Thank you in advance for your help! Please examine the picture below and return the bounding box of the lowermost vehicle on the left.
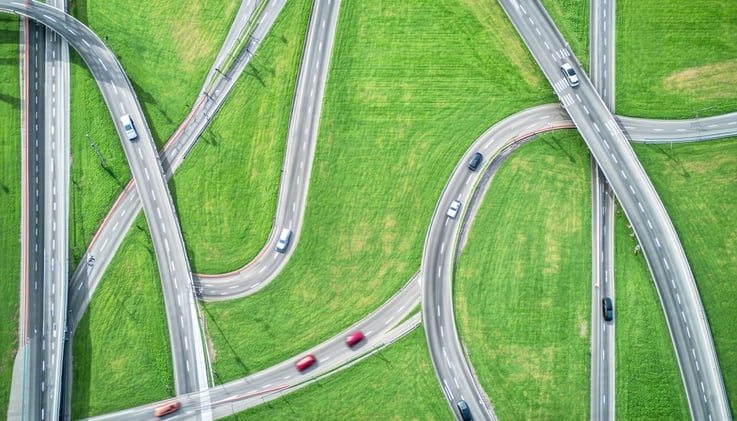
[154,400,181,416]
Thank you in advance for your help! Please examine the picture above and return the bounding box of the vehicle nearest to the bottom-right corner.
[602,296,614,322]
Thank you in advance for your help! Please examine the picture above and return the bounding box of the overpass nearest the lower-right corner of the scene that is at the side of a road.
[497,0,735,421]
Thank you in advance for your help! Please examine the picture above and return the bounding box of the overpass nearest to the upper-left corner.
[0,0,202,399]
